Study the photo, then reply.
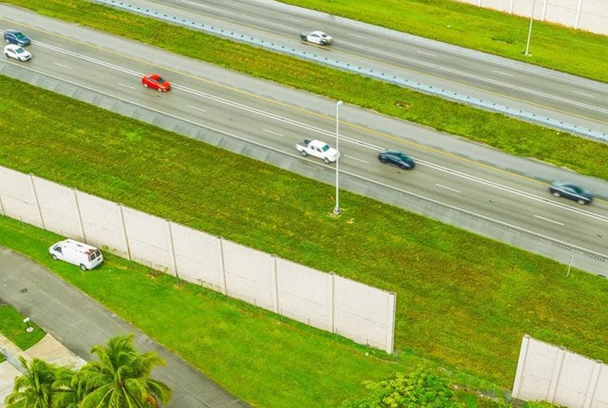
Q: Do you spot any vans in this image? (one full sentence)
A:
Yes, this view includes a van.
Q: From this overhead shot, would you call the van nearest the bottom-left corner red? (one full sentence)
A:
No, from above the van nearest the bottom-left corner looks white.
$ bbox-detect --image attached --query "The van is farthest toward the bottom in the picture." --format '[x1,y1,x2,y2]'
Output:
[48,239,106,271]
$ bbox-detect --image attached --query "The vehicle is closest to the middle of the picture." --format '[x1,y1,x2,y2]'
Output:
[294,140,341,163]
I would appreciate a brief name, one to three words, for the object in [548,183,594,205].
car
